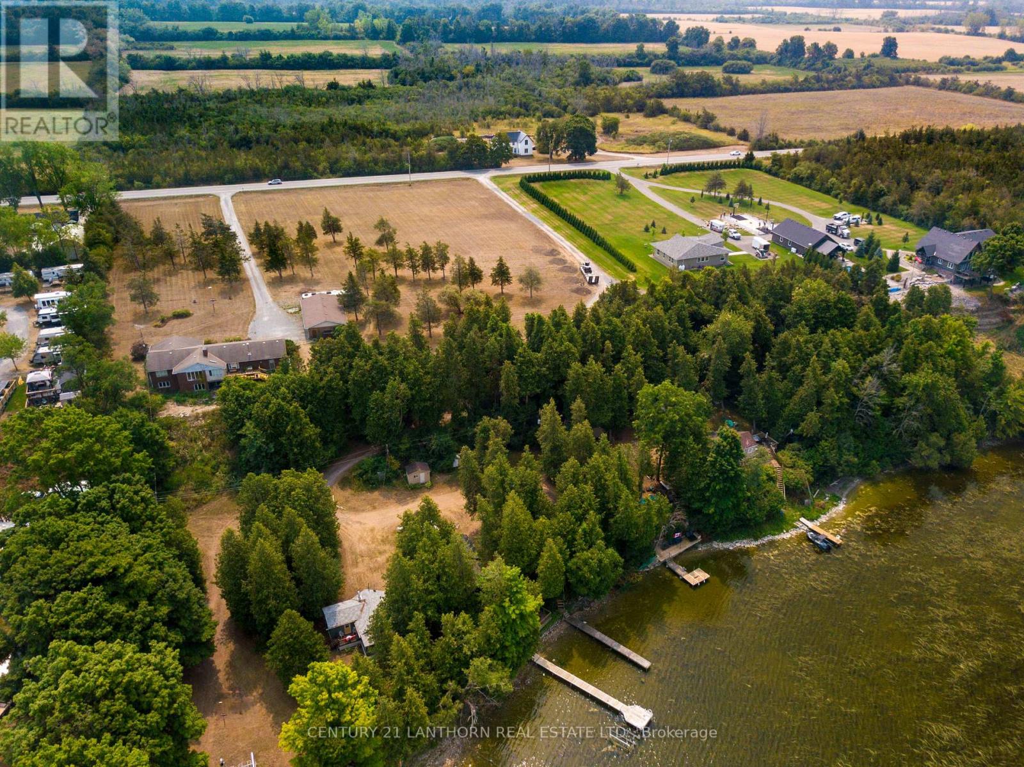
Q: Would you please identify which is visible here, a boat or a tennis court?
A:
boat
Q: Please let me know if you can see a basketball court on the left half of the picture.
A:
No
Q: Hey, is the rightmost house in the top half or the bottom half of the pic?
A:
top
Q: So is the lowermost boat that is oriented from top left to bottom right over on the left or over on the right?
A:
right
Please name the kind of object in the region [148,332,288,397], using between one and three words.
house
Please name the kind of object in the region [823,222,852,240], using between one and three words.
vehicle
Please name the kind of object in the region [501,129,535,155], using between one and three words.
house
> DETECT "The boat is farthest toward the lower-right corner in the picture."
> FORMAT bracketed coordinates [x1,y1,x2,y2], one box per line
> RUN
[808,531,839,558]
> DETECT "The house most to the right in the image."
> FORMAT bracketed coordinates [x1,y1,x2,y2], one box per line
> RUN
[917,230,1001,282]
